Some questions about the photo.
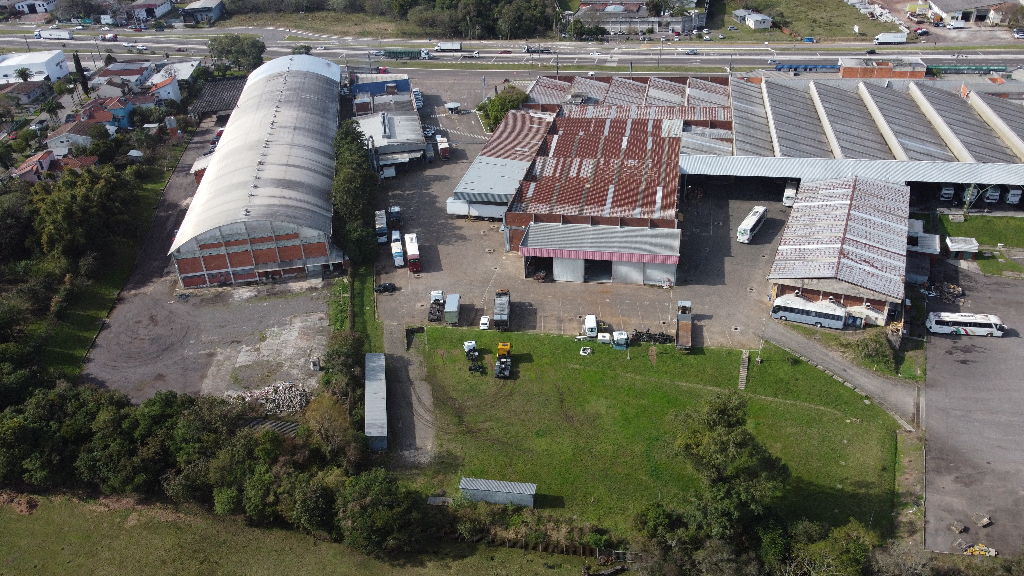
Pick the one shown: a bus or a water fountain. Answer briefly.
bus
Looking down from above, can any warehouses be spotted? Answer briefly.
Yes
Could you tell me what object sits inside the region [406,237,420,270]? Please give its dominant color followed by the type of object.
white vehicle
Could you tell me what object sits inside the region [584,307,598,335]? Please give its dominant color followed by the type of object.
white vehicle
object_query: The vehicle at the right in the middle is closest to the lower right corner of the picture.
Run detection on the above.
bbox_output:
[928,309,1011,336]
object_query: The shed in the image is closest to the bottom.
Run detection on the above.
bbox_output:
[457,474,539,508]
